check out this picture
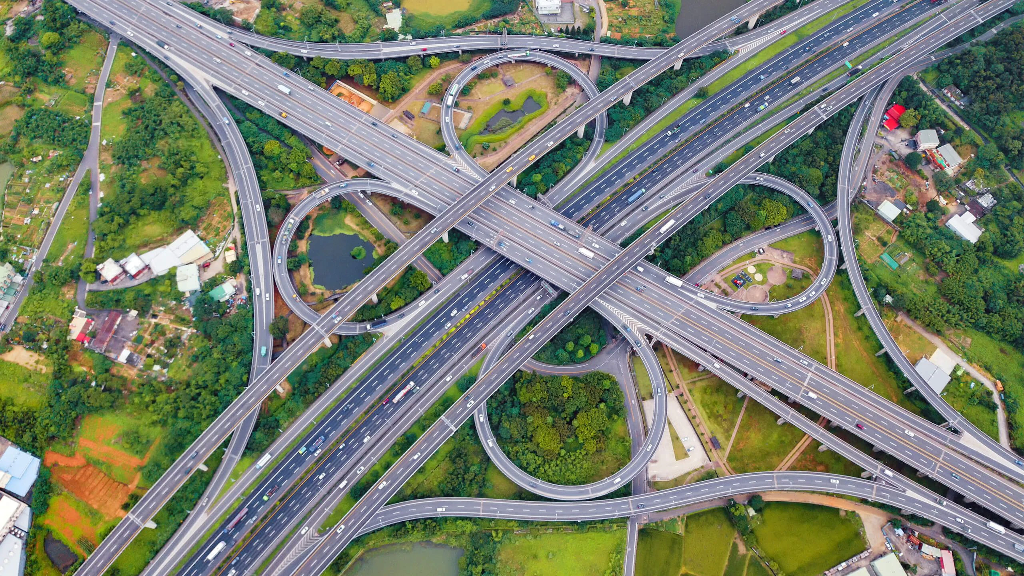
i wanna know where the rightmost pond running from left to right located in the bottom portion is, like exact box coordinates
[351,539,462,576]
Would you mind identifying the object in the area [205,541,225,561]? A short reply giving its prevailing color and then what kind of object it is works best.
white bus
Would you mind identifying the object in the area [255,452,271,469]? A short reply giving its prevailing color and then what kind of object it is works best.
white vehicle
